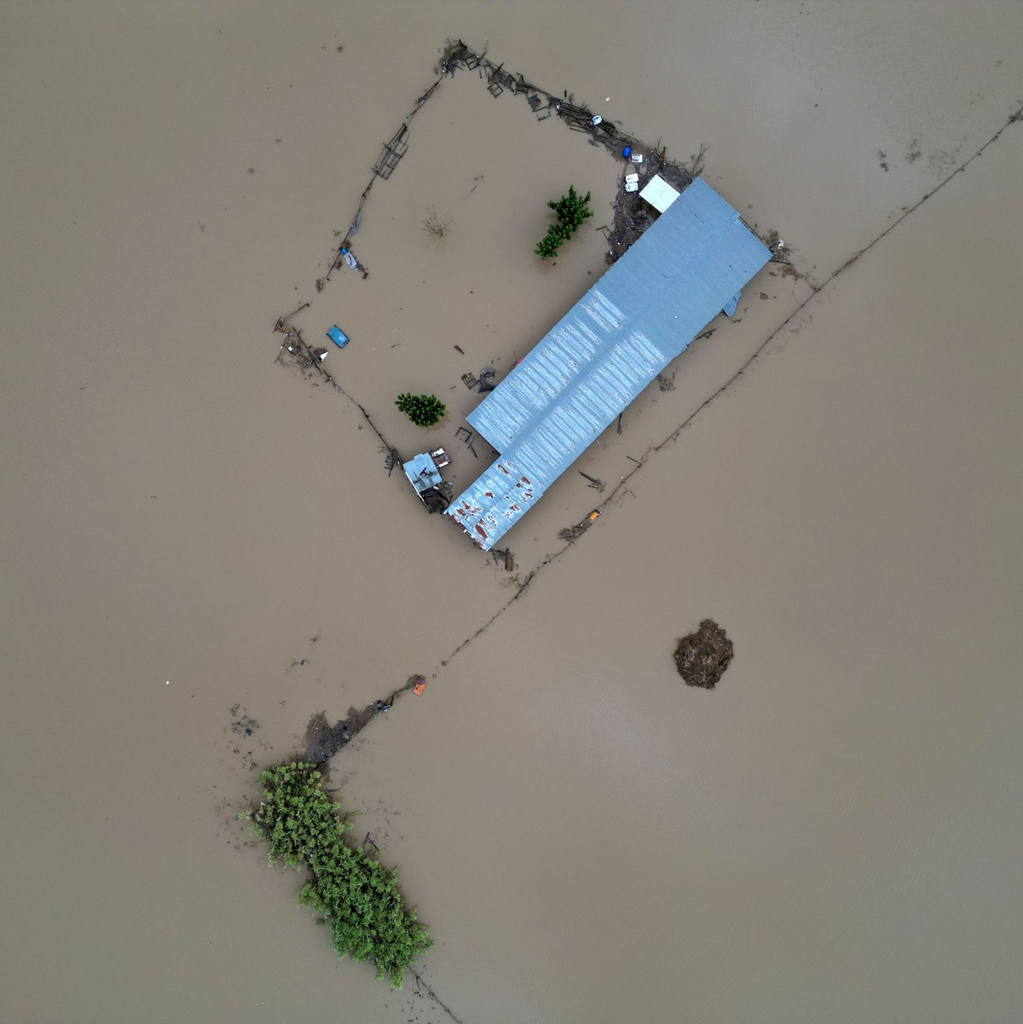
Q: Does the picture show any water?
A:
Yes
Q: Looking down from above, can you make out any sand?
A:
No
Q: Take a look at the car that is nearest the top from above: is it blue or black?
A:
blue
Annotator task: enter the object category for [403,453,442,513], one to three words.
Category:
shed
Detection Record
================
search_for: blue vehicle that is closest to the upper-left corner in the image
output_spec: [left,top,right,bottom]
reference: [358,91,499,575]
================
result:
[326,324,350,348]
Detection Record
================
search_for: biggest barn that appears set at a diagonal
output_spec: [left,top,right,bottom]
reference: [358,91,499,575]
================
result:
[444,177,773,551]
